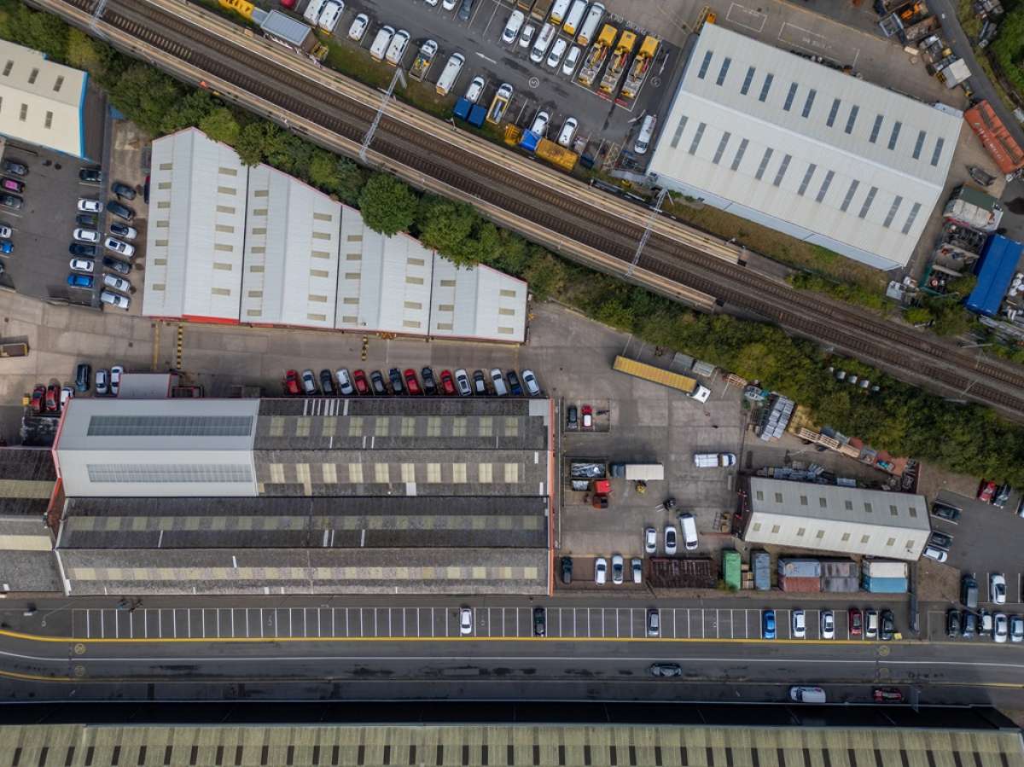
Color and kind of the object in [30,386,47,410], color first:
red car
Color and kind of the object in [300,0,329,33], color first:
white van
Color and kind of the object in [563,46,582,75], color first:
white vehicle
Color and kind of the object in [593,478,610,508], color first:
red work vehicle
